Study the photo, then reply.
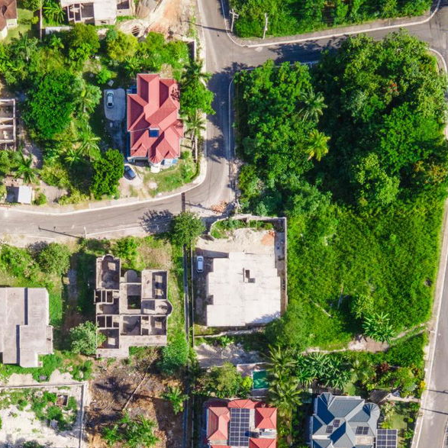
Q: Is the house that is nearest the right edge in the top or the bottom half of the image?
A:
bottom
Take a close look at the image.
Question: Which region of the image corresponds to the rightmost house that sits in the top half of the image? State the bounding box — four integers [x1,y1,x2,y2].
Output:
[127,74,183,176]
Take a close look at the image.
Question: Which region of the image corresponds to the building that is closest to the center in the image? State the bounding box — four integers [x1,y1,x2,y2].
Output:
[206,250,280,328]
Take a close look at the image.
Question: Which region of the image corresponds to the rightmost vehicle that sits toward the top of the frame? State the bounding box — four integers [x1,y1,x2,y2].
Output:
[123,162,137,183]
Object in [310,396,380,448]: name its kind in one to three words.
house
